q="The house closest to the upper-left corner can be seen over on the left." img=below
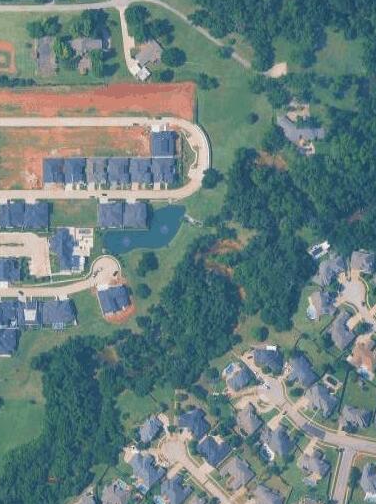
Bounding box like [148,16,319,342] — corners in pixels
[70,35,104,69]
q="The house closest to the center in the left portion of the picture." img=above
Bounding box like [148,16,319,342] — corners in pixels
[124,202,146,228]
